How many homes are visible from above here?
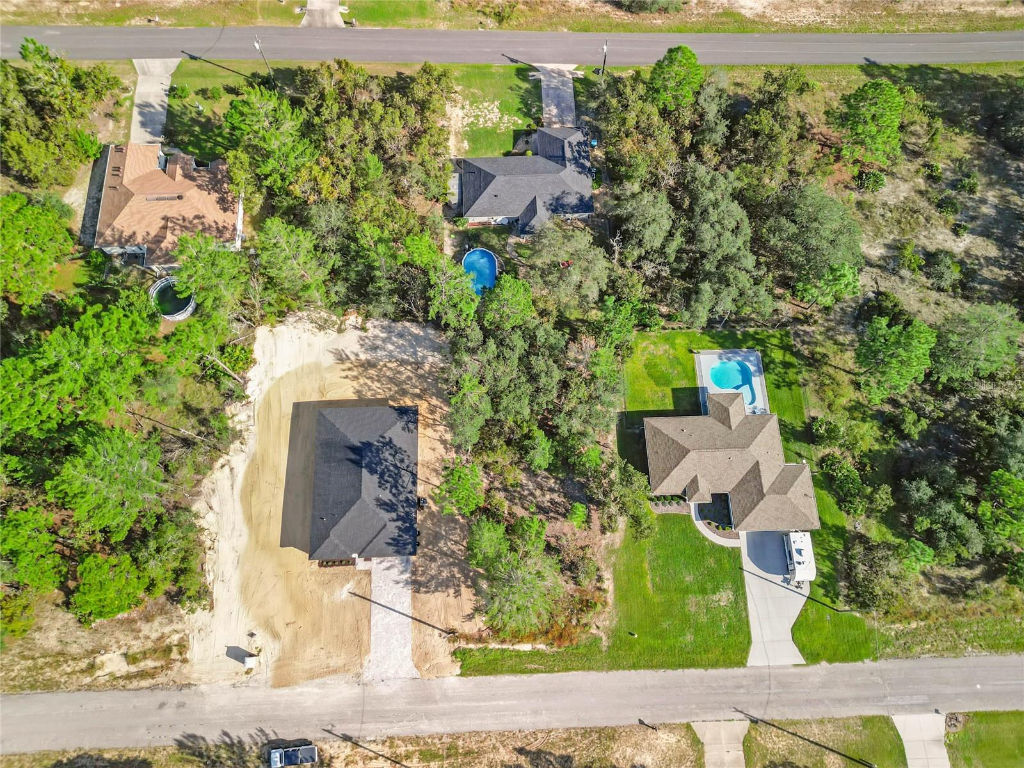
4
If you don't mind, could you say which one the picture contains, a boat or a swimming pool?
swimming pool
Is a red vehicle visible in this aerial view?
No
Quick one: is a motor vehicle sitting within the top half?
No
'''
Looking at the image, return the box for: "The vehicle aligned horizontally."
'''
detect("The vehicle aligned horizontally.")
[267,745,318,768]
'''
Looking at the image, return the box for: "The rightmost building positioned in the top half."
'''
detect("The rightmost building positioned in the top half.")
[462,127,594,240]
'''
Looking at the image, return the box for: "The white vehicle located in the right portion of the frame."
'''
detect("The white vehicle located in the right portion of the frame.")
[782,533,814,591]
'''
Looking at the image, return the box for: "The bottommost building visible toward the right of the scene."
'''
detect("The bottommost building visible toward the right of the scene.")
[644,393,817,531]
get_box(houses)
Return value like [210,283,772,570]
[462,127,594,240]
[310,406,418,560]
[95,137,242,270]
[644,393,817,531]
